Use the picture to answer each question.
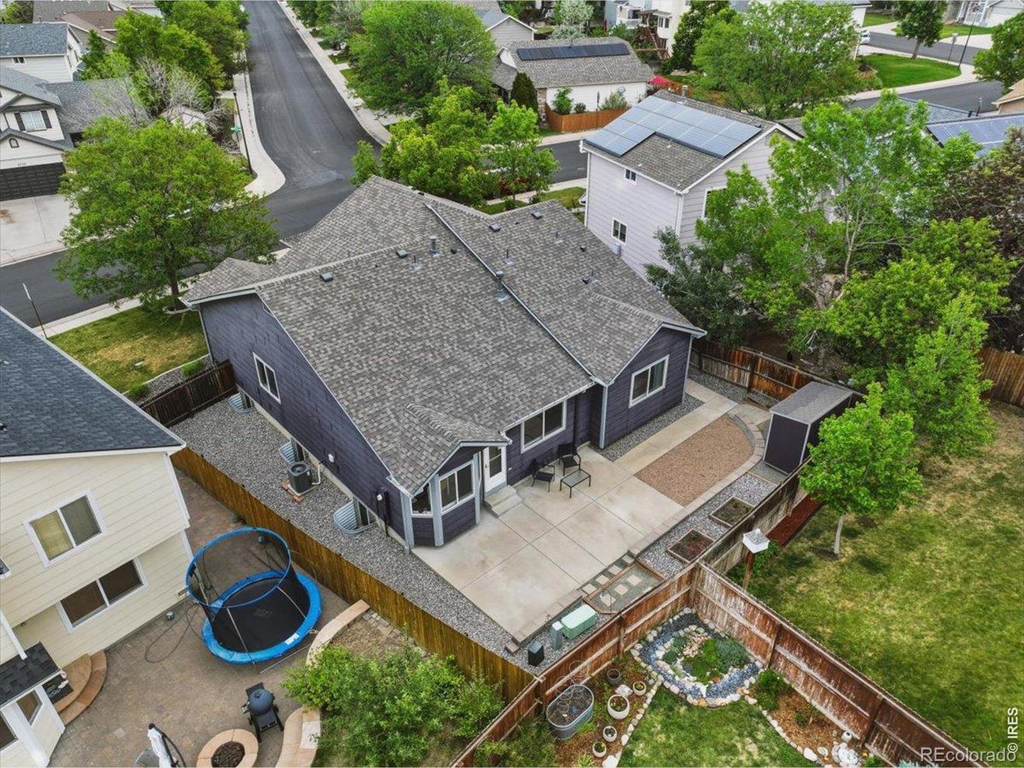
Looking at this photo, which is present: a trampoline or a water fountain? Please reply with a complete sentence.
This aerial view contains a trampoline.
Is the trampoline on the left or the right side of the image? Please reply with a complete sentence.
You can find the trampoline on the left side of the picture.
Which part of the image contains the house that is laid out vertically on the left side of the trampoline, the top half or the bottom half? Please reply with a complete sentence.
It is in the bottom half that the house that is laid out vertically on the left side of the trampoline appears.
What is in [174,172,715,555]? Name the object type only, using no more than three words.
house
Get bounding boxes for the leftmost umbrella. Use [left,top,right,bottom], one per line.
[147,722,186,768]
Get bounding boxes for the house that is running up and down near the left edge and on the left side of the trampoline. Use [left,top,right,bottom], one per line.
[0,288,201,768]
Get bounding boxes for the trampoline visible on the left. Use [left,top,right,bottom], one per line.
[185,529,325,676]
